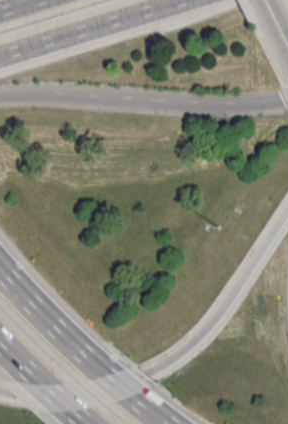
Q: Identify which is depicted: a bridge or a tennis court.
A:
bridge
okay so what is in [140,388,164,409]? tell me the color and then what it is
white truck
